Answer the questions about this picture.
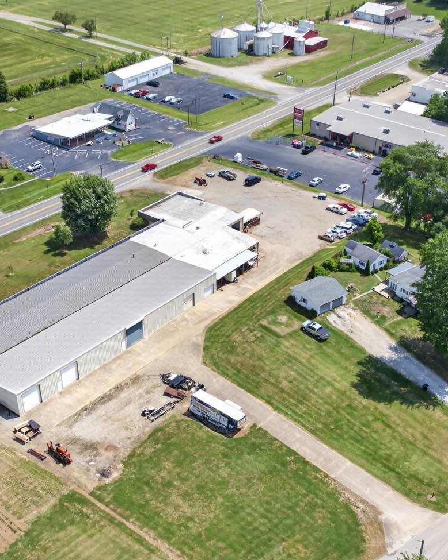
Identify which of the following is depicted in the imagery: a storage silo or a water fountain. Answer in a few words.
storage silo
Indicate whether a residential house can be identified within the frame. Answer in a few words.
Yes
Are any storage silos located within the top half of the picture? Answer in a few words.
Yes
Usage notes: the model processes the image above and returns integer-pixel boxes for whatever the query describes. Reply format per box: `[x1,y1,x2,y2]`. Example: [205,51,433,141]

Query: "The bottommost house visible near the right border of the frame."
[366,256,433,316]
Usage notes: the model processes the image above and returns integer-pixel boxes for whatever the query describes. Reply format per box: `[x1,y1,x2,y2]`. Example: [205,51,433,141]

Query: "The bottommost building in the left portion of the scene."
[0,187,263,416]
